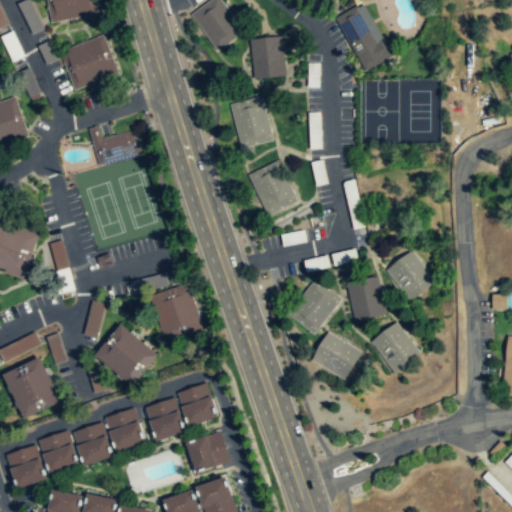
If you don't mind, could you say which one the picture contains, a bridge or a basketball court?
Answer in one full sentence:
Of the two, only a basketball court appears.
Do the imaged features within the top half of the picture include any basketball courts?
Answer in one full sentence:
Yes, a basketball court can be seen within the top half of the picture.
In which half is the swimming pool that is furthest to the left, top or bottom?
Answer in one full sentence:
It is in the top half that the swimming pool that is furthest to the left appears.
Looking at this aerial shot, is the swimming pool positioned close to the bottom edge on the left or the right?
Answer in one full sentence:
The swimming pool positioned close to the bottom edge is on the left side of the image.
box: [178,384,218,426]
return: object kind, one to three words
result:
house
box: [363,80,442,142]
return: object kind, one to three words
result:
basketball court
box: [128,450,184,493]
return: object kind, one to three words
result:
swimming pool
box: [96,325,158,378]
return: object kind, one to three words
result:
building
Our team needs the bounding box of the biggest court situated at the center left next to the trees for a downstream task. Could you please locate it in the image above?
[75,156,164,249]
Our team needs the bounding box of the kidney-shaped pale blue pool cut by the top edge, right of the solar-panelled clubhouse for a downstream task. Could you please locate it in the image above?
[376,0,424,38]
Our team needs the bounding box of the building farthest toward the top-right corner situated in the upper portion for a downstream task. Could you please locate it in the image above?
[337,6,390,70]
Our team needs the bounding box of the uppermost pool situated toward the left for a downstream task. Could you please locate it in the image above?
[62,140,98,172]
